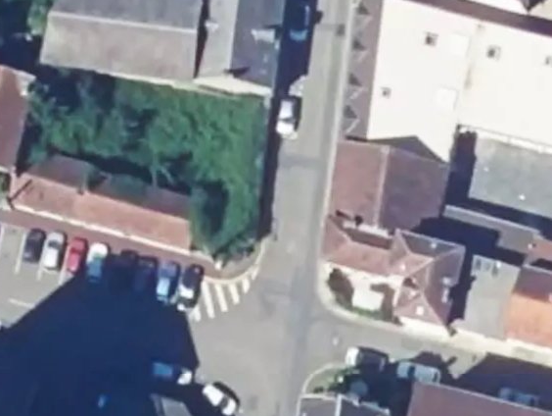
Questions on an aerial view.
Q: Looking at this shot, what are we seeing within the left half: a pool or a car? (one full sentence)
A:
The feature located within the left half is a car.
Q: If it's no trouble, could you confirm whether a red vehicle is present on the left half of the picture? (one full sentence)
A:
Yes, a red vehicle appears on the left half of the picture.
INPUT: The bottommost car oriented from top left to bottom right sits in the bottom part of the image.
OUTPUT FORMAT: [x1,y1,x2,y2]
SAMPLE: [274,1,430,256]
[202,381,240,416]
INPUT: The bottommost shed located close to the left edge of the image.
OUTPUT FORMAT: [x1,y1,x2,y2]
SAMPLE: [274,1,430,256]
[14,157,191,256]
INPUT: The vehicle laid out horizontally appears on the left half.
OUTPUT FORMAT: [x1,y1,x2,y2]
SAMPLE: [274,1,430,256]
[153,361,196,385]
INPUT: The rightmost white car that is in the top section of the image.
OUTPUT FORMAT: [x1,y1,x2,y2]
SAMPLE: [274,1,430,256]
[277,99,296,139]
